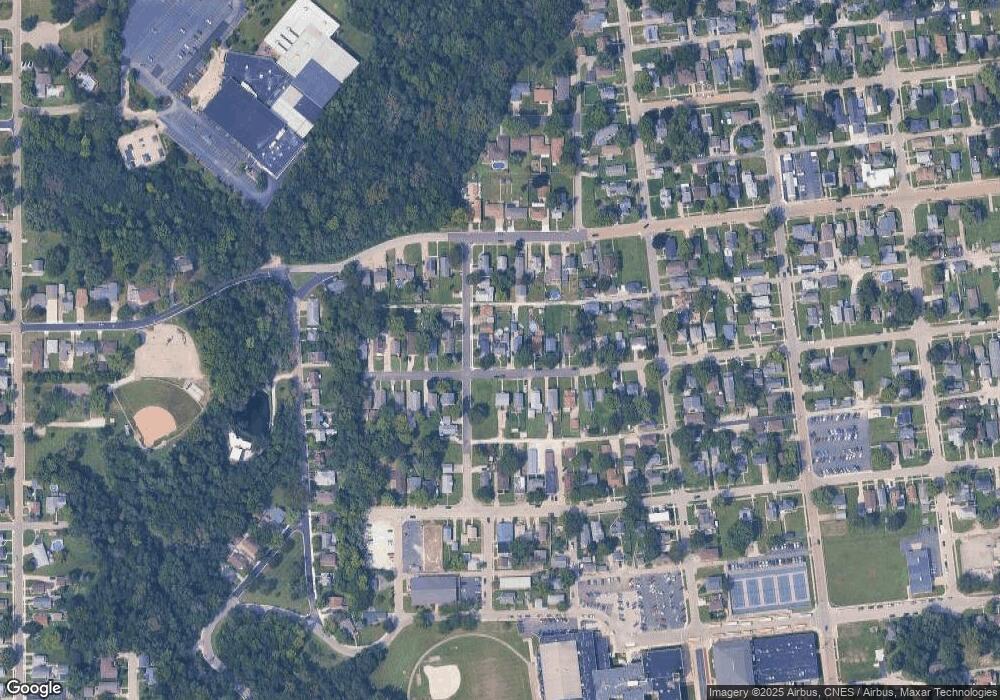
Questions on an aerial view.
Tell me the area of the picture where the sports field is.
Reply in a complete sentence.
The sports field is located in the bottom region of the scene.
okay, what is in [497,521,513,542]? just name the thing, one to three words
house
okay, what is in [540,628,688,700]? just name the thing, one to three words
building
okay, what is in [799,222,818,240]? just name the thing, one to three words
house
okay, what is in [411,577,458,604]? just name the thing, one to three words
building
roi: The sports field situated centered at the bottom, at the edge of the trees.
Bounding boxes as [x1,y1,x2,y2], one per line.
[411,638,532,700]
